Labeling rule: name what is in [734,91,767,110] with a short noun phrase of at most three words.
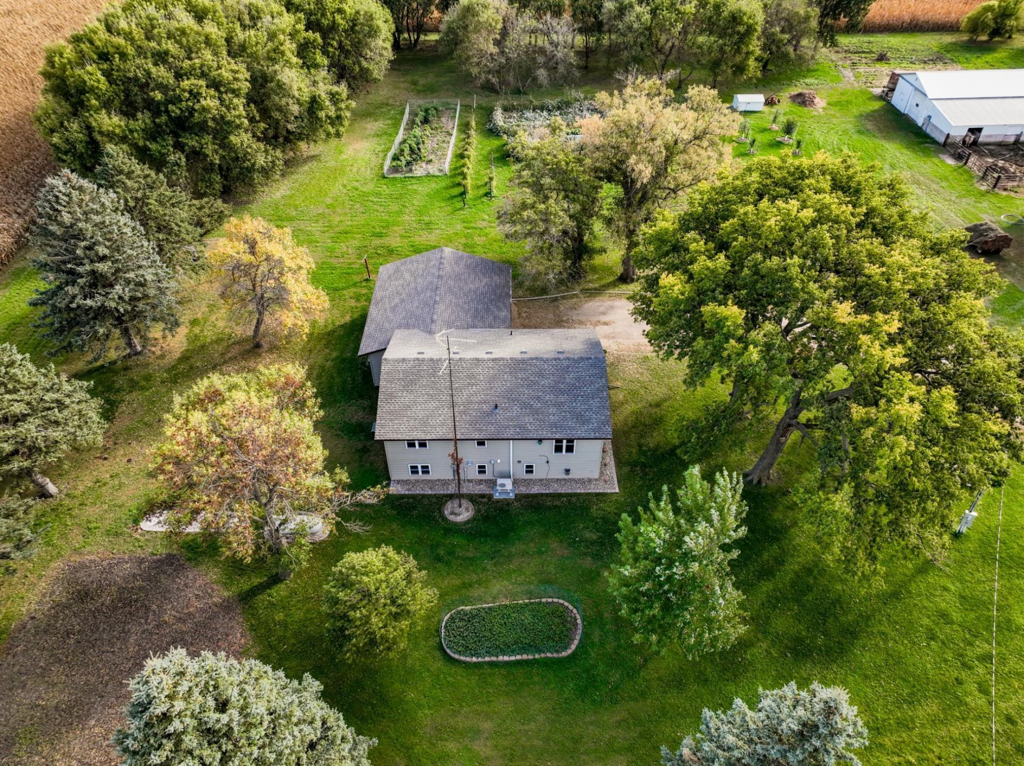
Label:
shed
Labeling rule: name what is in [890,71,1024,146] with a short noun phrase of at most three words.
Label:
barn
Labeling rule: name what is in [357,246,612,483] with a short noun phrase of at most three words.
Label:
house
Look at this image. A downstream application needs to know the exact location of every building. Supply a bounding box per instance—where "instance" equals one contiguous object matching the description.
[357,246,612,483]
[890,71,1024,146]
[734,91,767,110]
